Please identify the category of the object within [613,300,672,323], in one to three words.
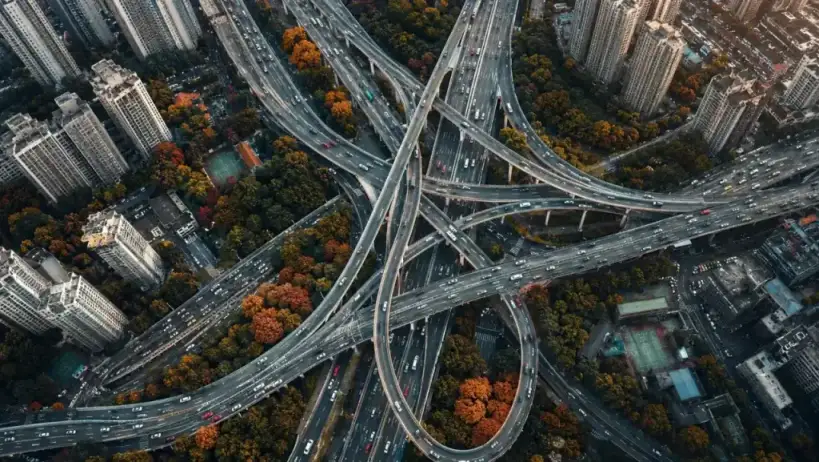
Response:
building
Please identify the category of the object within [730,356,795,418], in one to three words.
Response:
building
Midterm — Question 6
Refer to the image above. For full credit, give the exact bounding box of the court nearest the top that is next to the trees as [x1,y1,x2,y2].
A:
[206,148,247,184]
